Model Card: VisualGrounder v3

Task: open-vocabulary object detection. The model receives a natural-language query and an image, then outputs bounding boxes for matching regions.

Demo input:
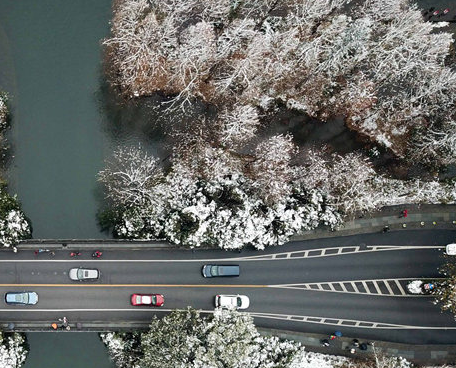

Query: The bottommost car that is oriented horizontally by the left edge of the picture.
[5,290,39,307]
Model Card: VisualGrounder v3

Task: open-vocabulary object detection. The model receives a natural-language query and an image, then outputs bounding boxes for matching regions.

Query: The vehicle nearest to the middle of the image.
[200,262,241,279]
